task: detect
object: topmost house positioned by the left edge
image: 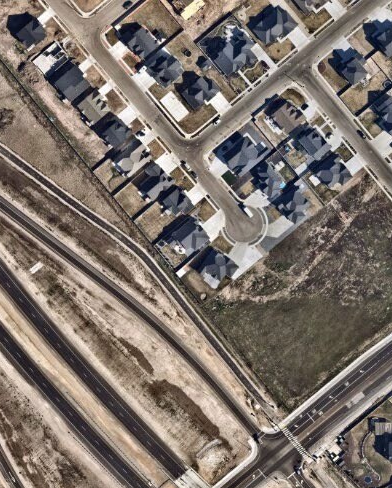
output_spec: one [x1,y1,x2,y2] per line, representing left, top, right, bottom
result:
[11,14,43,49]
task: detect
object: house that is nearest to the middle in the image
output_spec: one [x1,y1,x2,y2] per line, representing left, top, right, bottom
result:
[166,216,212,257]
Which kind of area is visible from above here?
residential area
